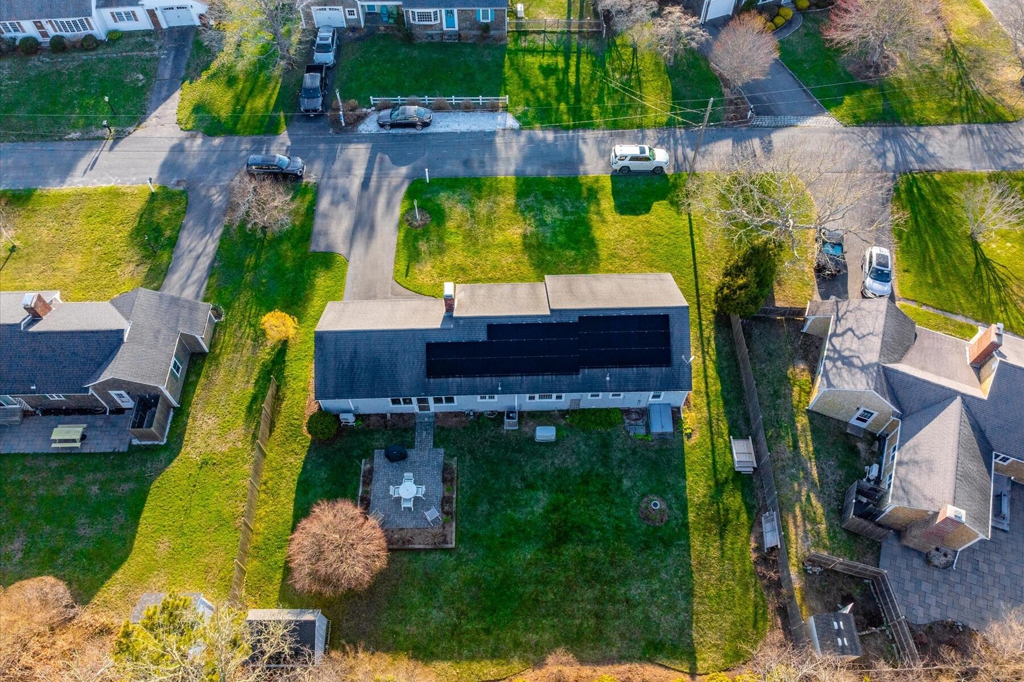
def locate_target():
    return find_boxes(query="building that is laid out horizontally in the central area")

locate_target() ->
[314,273,694,420]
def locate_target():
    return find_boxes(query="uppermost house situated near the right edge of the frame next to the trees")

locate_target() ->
[801,297,1024,562]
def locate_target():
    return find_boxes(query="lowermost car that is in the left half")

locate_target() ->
[242,149,306,180]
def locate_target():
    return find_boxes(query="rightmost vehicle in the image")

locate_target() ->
[856,242,902,297]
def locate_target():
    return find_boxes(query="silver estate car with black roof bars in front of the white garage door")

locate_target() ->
[311,27,339,67]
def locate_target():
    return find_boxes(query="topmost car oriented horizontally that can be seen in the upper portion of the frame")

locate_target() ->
[375,105,432,130]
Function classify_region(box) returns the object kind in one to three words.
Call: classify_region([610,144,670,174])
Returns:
car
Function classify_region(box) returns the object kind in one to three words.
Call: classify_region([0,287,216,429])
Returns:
house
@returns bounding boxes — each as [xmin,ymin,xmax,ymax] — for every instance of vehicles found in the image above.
[297,67,330,113]
[610,144,670,174]
[311,27,339,67]
[242,149,306,180]
[375,105,432,130]
[856,242,902,297]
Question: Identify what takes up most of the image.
grass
